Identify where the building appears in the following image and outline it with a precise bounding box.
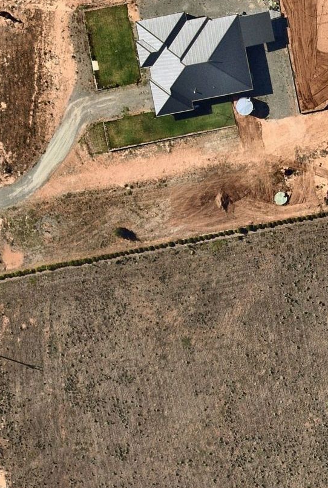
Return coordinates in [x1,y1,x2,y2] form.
[136,10,275,116]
